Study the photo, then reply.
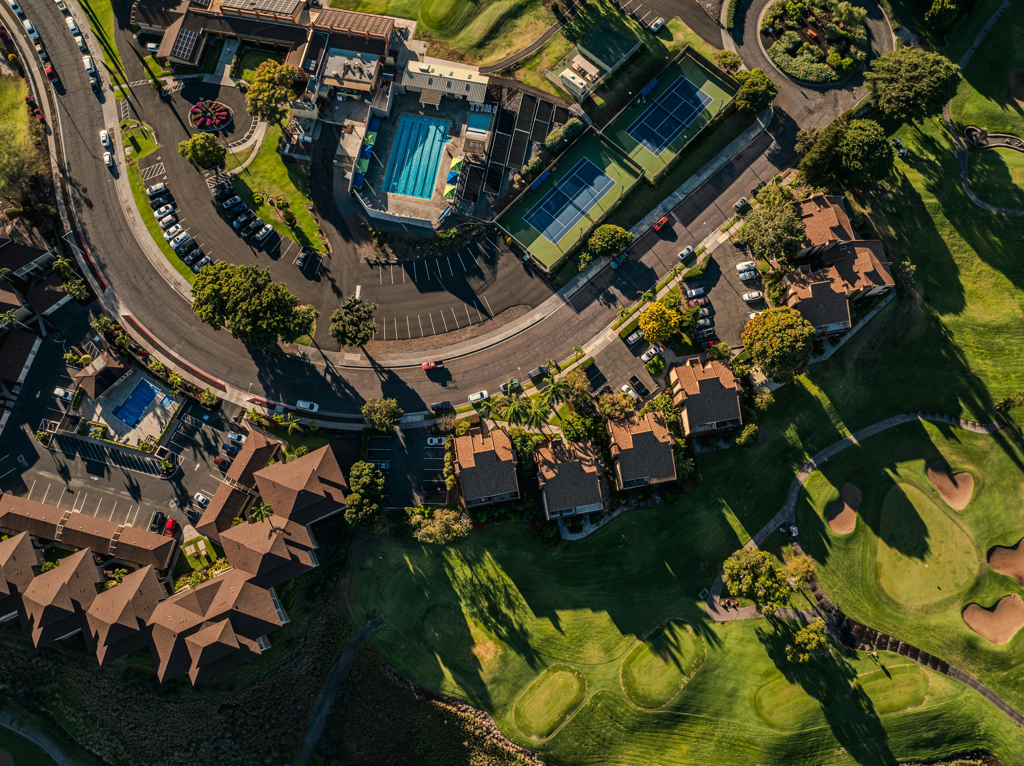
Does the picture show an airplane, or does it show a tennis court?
tennis court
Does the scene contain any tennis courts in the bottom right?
No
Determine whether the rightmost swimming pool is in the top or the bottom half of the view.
top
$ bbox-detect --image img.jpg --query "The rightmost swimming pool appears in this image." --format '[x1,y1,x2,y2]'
[464,111,492,139]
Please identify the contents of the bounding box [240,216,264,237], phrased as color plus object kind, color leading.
black truck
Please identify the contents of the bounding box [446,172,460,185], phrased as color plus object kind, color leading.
blue umbrella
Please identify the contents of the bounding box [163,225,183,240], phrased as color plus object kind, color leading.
white car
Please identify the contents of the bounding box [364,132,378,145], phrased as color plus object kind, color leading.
green umbrella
